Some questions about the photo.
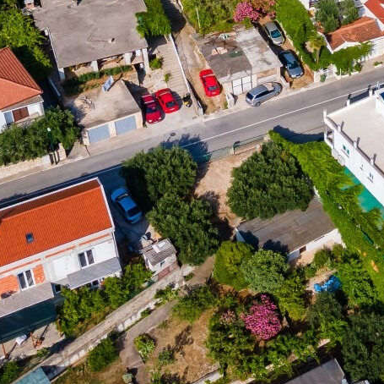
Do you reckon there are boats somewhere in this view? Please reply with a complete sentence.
No, the scene contains no boat.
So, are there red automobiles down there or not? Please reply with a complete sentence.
Yes, there's a red automobile down there.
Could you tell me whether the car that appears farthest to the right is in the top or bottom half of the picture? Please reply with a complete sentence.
You can find the car that appears farthest to the right in the top half.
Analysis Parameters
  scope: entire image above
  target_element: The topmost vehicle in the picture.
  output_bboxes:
[265,20,284,44]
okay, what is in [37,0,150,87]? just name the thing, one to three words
house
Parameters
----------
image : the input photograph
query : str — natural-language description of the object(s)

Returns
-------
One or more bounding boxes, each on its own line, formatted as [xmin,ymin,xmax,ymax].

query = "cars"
[157,86,182,113]
[112,188,140,220]
[141,94,162,120]
[265,20,284,44]
[246,83,283,103]
[282,51,302,76]
[200,69,219,96]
